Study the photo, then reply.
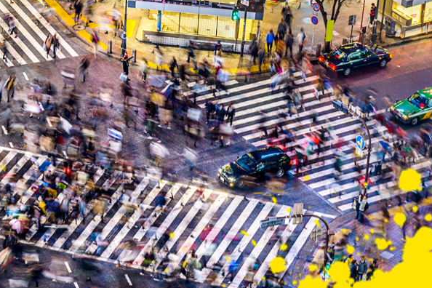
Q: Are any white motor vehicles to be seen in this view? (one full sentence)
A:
No, the photo shows no white motor vehicle.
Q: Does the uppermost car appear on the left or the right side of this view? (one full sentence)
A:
The uppermost car appears in the right half of the scene.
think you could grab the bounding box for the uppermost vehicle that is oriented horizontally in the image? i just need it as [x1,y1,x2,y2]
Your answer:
[312,44,390,78]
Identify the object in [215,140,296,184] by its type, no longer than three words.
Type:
car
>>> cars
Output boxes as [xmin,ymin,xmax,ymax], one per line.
[389,87,432,125]
[312,44,390,78]
[215,140,296,184]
